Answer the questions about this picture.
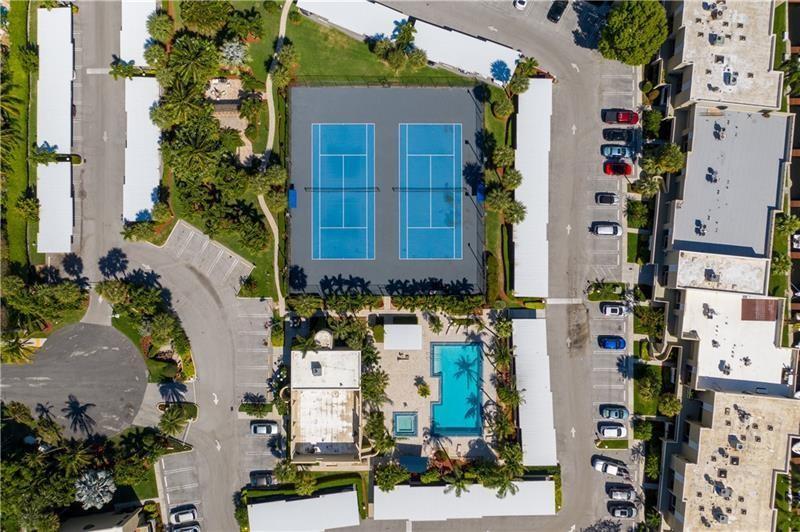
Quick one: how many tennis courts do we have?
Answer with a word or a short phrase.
two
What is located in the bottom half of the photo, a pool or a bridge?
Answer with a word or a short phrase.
pool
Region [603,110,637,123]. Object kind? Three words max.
vehicle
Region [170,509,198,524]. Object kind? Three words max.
car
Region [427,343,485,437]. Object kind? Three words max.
swimming pool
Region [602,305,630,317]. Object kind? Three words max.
vehicle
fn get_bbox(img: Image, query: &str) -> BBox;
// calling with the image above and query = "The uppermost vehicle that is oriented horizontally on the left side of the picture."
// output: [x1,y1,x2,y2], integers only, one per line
[251,422,279,435]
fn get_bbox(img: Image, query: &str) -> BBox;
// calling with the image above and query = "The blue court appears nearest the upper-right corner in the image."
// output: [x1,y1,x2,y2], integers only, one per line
[394,123,469,260]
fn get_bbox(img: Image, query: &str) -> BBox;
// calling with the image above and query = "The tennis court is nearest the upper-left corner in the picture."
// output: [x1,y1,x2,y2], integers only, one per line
[305,123,380,260]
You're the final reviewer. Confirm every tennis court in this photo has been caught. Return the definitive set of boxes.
[305,123,380,260]
[394,123,469,260]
